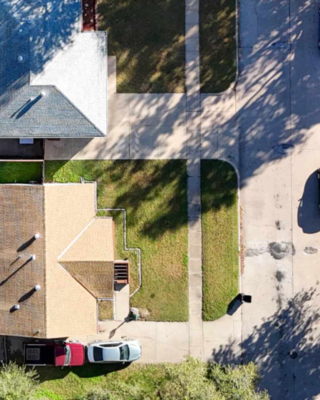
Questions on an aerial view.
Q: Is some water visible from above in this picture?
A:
No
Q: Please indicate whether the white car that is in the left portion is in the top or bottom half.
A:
bottom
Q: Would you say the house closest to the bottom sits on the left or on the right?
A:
left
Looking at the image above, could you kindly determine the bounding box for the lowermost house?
[0,182,116,339]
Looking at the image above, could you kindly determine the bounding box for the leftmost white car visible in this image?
[83,339,140,366]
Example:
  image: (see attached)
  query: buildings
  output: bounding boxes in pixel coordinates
[0,0,109,139]
[0,182,116,339]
